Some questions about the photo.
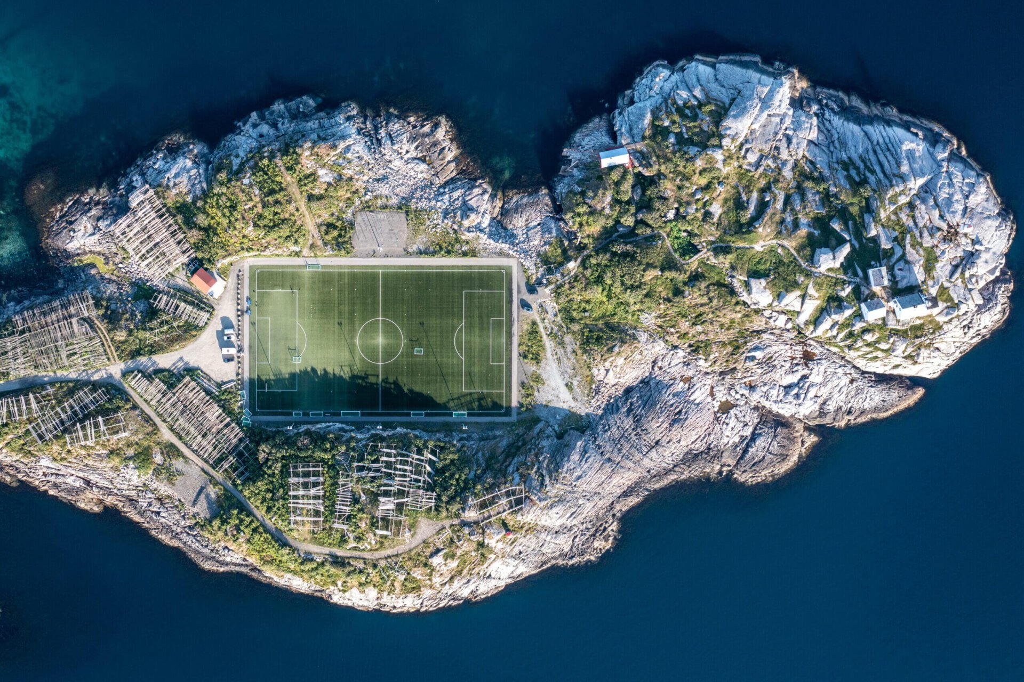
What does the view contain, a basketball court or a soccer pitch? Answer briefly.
soccer pitch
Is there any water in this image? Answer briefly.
Yes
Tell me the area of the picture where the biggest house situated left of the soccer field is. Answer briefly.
left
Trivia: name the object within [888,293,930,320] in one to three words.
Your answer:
house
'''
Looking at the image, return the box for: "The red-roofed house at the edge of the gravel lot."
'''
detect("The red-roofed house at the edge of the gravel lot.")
[190,268,217,293]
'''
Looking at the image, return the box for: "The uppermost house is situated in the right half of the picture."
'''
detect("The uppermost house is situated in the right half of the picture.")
[598,145,632,168]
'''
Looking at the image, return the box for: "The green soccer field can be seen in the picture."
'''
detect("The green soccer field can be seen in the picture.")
[249,265,512,417]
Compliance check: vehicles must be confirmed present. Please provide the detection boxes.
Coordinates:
[522,305,534,314]
[223,328,235,334]
[528,290,538,295]
[222,357,234,363]
[220,348,236,354]
[223,335,234,340]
